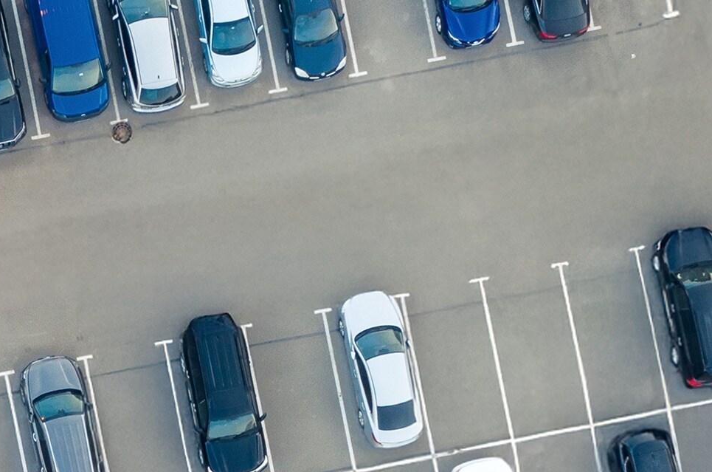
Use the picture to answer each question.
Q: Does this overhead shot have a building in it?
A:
No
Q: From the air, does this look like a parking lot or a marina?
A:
parking lot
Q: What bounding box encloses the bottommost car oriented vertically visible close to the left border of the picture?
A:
[25,354,103,472]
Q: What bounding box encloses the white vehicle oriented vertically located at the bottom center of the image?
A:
[343,290,428,450]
